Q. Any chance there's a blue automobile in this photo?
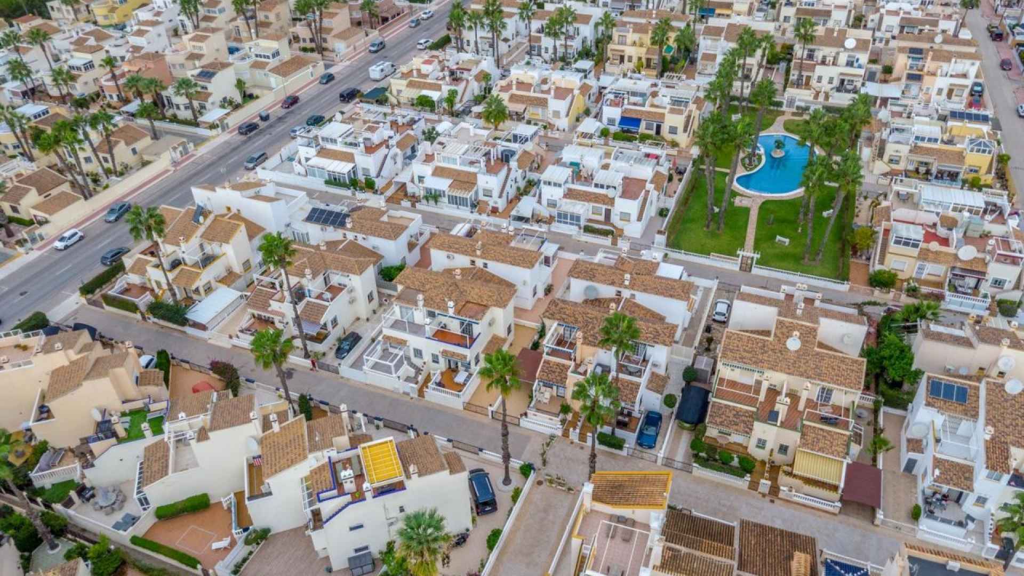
Yes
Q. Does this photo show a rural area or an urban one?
urban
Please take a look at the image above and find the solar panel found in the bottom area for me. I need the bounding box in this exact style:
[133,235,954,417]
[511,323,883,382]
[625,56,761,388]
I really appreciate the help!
[933,379,968,407]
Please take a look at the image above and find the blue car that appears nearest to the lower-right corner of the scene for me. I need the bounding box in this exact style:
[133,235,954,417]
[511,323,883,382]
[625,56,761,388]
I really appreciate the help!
[635,411,663,446]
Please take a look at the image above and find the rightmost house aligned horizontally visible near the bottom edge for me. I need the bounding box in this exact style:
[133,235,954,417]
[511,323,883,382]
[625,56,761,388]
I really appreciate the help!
[894,531,1003,576]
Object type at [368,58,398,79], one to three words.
camper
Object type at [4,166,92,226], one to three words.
house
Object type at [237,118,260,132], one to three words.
car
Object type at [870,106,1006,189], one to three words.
house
